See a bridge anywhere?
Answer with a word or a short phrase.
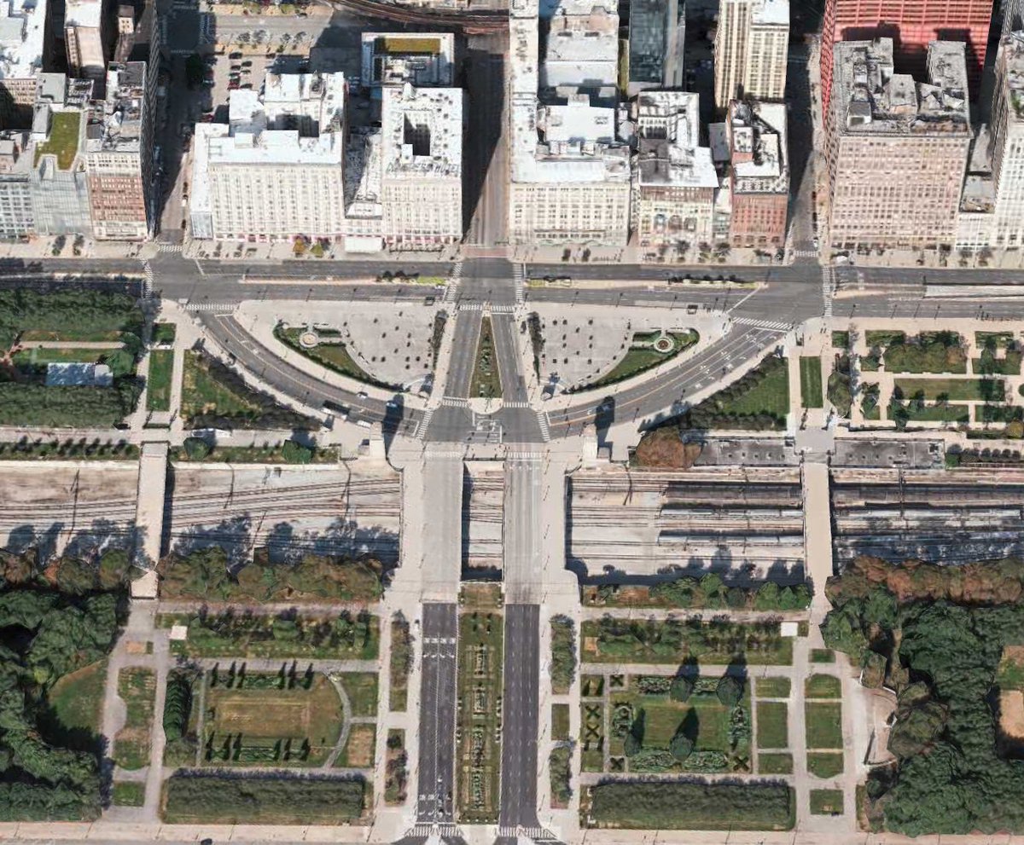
Yes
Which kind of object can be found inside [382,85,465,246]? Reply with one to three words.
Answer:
building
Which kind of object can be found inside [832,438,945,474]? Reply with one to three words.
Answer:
building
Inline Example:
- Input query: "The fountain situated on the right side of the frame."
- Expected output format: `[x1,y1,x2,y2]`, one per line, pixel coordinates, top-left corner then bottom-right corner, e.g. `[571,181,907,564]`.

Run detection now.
[655,336,673,350]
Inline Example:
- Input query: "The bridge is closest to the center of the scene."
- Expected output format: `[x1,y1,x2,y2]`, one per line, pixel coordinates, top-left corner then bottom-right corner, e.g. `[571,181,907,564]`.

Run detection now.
[386,443,583,605]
